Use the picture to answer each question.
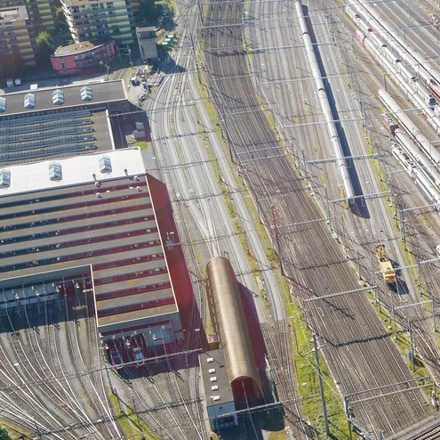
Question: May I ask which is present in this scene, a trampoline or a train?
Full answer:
Visible in the photo is a train.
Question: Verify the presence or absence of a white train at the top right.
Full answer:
Yes, a white train shows up at the top right.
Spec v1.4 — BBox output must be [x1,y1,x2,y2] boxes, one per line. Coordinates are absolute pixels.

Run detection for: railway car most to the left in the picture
[104,345,124,375]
